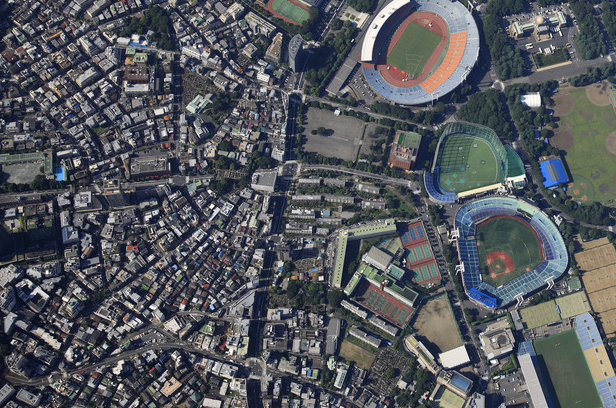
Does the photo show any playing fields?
Yes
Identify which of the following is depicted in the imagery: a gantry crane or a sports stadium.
sports stadium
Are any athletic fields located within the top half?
Yes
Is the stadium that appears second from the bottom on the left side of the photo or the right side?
right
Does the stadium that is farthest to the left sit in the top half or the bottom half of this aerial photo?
top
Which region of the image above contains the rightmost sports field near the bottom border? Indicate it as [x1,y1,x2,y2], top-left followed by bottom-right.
[534,332,602,408]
